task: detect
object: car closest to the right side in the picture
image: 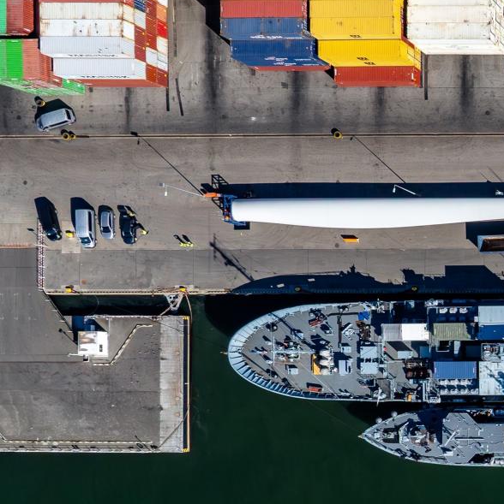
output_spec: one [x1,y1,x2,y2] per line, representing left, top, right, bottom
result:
[116,211,135,243]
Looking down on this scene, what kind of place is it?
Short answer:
port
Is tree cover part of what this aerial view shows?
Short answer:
No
